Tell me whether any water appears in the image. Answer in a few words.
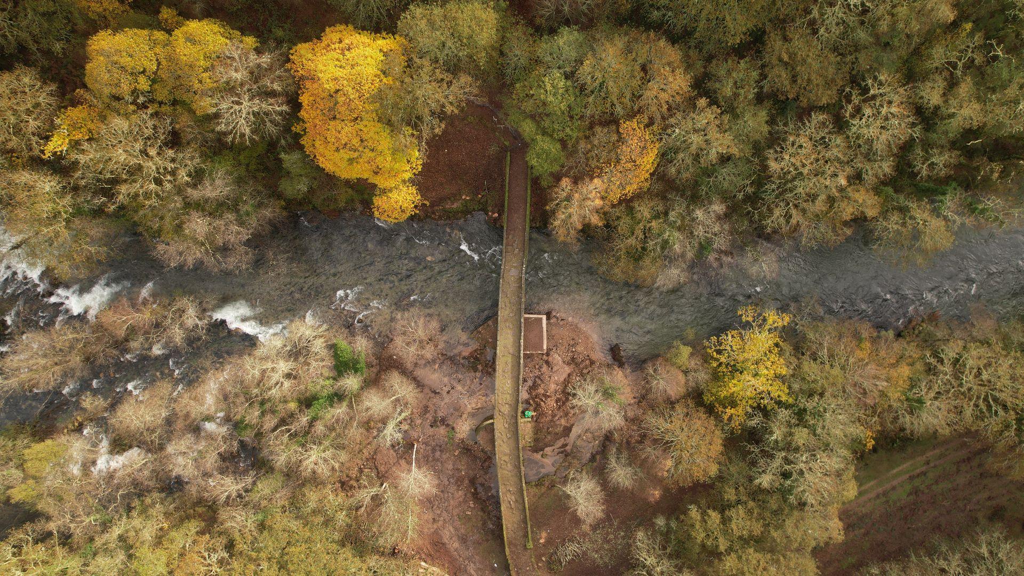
Yes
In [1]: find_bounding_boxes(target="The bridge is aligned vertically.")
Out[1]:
[494,151,535,576]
